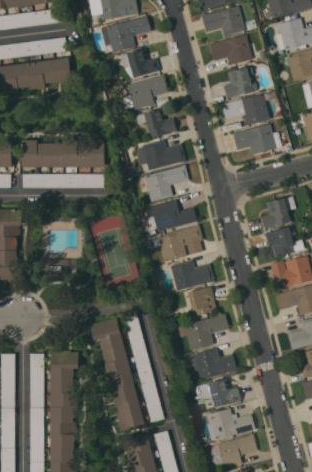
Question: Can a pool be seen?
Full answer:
Yes, this view includes a pool.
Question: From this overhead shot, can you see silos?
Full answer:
No, no silo is visible in the view.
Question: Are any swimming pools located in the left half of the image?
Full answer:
Yes, a swimming pool shows up in the left half of the image.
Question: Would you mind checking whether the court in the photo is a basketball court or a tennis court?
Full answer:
The court is a tennis court.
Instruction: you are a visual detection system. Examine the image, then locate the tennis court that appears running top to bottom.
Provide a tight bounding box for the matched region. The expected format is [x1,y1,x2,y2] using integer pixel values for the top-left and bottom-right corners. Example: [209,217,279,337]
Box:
[91,216,138,288]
